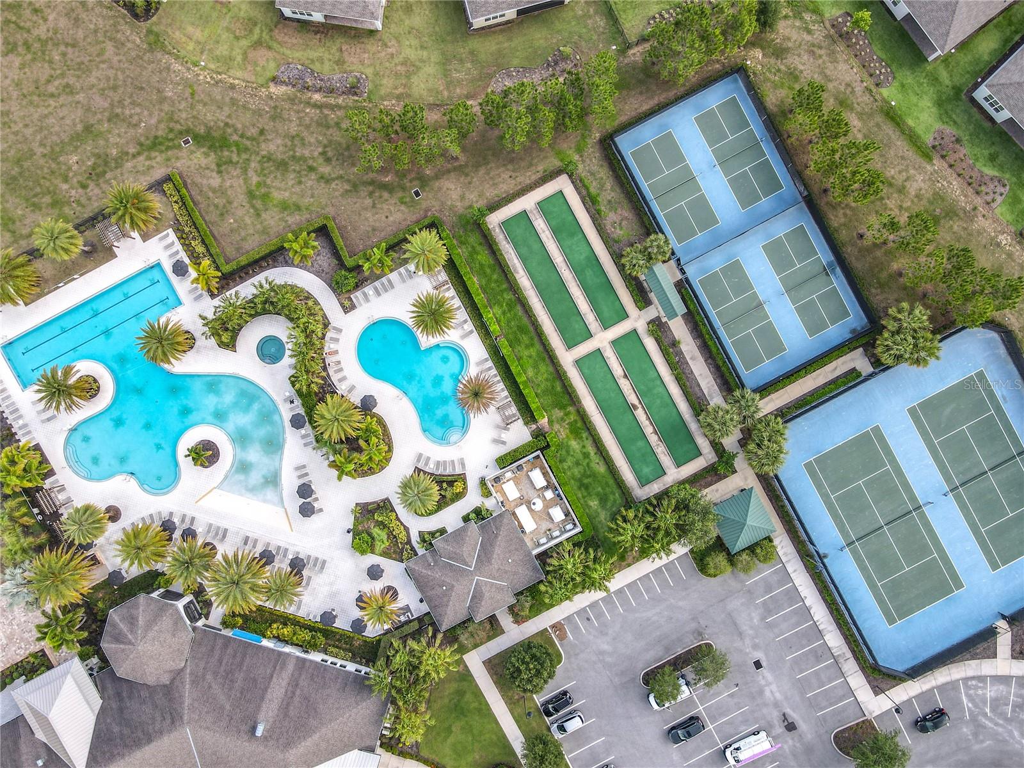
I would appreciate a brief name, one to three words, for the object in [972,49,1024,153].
house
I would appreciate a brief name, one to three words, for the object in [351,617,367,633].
umbrella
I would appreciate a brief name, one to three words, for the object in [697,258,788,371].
sports court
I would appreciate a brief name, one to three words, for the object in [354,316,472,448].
swimming pool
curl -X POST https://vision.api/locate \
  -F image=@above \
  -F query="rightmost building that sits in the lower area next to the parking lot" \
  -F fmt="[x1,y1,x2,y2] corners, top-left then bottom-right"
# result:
[711,486,776,555]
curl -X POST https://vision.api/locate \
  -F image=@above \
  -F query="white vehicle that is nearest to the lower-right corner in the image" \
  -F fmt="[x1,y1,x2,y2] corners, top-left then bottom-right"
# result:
[724,730,776,768]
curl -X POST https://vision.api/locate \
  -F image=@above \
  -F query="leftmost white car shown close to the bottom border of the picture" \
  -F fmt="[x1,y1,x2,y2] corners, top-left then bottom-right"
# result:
[548,709,585,736]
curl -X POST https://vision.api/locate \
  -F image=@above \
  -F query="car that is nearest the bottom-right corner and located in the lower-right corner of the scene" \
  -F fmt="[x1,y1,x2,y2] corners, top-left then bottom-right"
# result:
[913,708,950,731]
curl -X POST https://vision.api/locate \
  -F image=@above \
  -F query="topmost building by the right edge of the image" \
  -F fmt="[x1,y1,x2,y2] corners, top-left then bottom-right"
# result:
[887,0,1013,62]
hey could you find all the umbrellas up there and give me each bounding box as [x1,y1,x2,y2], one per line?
[290,412,306,428]
[320,609,336,626]
[360,394,376,411]
[297,482,314,499]
[298,501,316,518]
[260,549,276,565]
[351,617,367,633]
[182,526,200,542]
[173,260,191,277]
[290,555,306,571]
[367,563,384,580]
[353,593,369,610]
[161,518,180,535]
